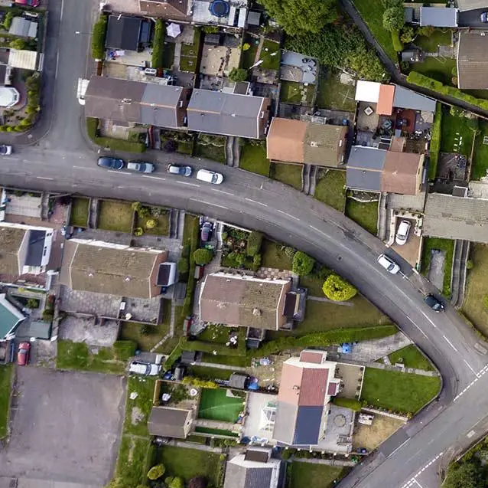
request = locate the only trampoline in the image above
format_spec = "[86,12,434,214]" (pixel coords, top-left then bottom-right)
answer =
[206,0,228,17]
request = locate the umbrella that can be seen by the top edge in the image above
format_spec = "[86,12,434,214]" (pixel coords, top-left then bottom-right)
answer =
[166,24,182,37]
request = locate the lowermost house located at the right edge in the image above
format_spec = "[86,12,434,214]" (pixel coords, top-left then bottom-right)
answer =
[422,185,488,243]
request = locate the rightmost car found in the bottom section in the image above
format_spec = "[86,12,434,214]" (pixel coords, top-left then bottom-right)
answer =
[421,289,446,313]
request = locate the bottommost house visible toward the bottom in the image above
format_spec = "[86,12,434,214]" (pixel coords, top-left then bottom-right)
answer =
[224,443,281,488]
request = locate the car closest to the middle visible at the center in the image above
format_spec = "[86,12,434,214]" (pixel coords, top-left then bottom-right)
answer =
[199,218,213,244]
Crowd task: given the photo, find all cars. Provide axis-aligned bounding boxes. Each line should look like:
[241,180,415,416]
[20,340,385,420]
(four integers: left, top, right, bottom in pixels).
[421,289,446,313]
[199,218,213,244]
[0,142,16,155]
[376,251,402,274]
[13,0,41,7]
[395,219,413,245]
[167,163,194,177]
[127,159,154,173]
[478,10,488,23]
[16,340,31,366]
[194,169,225,184]
[96,155,126,170]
